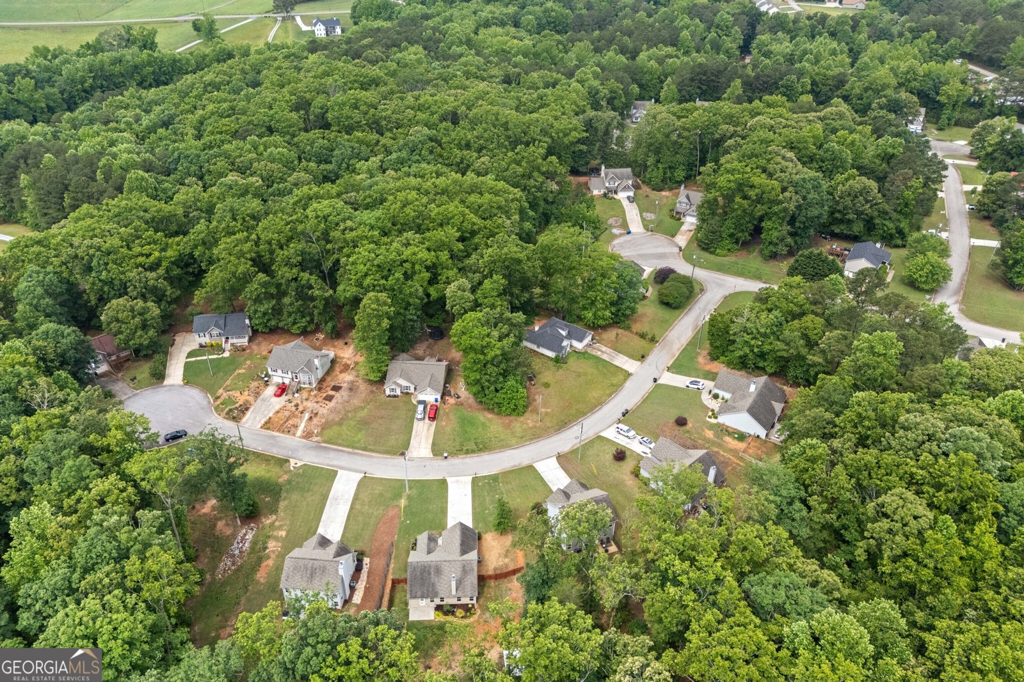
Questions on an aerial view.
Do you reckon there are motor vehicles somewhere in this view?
Yes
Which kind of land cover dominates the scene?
trees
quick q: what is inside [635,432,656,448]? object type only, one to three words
car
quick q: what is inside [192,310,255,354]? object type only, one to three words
house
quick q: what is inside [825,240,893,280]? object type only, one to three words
house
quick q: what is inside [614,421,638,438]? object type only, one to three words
car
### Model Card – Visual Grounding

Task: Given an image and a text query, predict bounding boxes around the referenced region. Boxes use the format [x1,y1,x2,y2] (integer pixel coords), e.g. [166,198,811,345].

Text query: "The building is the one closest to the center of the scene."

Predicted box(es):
[522,315,593,358]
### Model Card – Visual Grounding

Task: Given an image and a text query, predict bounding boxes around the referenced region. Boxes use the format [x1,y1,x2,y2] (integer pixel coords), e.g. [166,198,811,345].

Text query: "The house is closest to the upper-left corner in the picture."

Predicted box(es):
[312,9,345,36]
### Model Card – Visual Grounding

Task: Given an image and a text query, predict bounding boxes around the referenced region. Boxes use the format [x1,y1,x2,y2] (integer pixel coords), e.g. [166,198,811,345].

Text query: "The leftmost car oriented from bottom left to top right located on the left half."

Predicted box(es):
[271,379,289,395]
